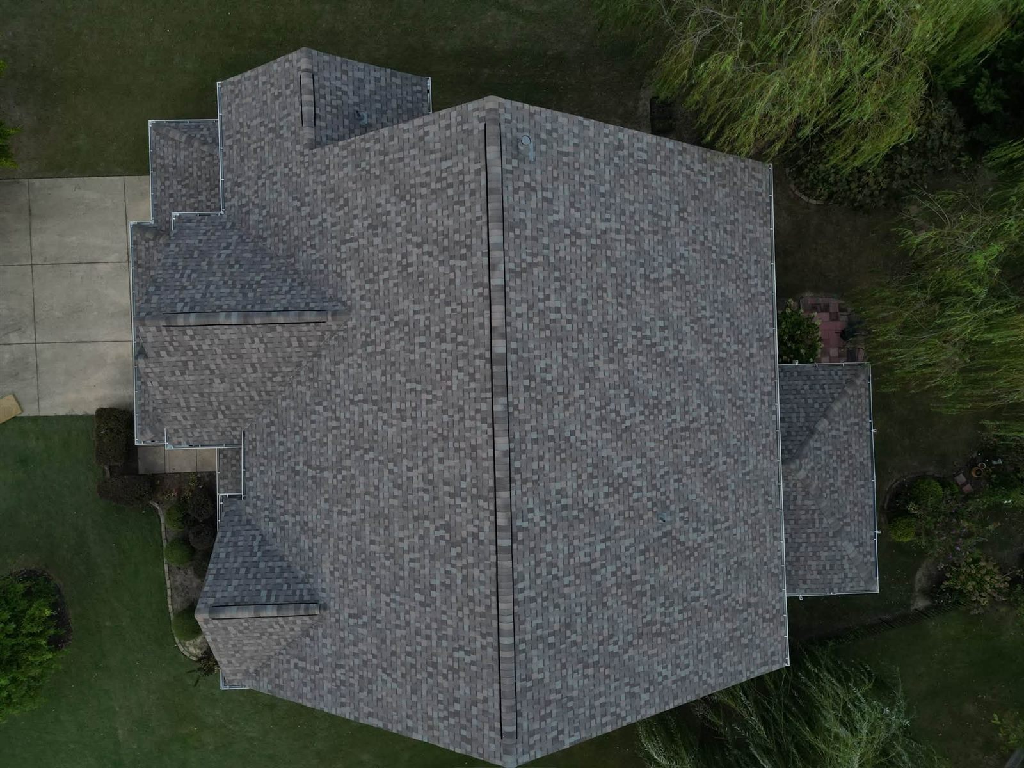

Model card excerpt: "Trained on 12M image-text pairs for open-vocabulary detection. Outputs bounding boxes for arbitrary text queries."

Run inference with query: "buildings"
[131,48,880,766]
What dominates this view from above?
buildings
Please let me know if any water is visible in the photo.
No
